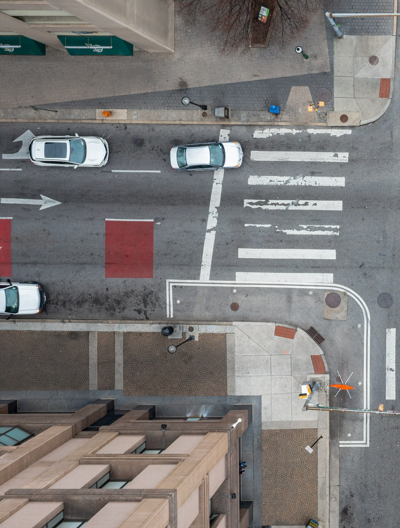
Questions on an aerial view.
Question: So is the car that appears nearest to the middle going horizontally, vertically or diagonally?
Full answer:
Seen from above, the car that appears nearest to the middle lies horizontally.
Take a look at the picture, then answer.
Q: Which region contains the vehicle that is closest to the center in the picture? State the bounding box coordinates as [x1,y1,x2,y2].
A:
[169,140,245,172]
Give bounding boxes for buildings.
[0,0,173,57]
[0,416,238,528]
